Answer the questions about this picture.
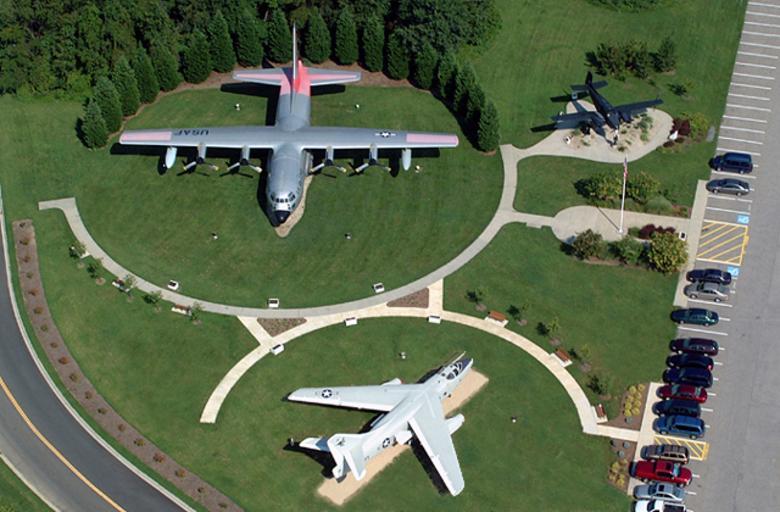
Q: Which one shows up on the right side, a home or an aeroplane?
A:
aeroplane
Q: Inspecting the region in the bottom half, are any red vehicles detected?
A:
Yes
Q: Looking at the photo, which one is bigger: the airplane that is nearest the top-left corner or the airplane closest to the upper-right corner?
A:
the airplane that is nearest the top-left corner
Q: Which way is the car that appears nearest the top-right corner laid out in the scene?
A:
from side to side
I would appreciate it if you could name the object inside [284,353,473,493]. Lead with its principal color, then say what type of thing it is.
white airplane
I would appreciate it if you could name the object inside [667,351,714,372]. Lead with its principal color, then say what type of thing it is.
black car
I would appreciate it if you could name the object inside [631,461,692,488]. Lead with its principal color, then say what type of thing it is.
red truck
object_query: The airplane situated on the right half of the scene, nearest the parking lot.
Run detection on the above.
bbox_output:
[548,71,661,155]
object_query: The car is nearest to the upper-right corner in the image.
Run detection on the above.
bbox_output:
[708,153,753,175]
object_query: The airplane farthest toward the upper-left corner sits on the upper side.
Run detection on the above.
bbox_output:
[120,24,456,222]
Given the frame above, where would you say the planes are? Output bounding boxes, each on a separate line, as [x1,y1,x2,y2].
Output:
[548,71,661,155]
[284,353,473,493]
[120,24,456,222]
